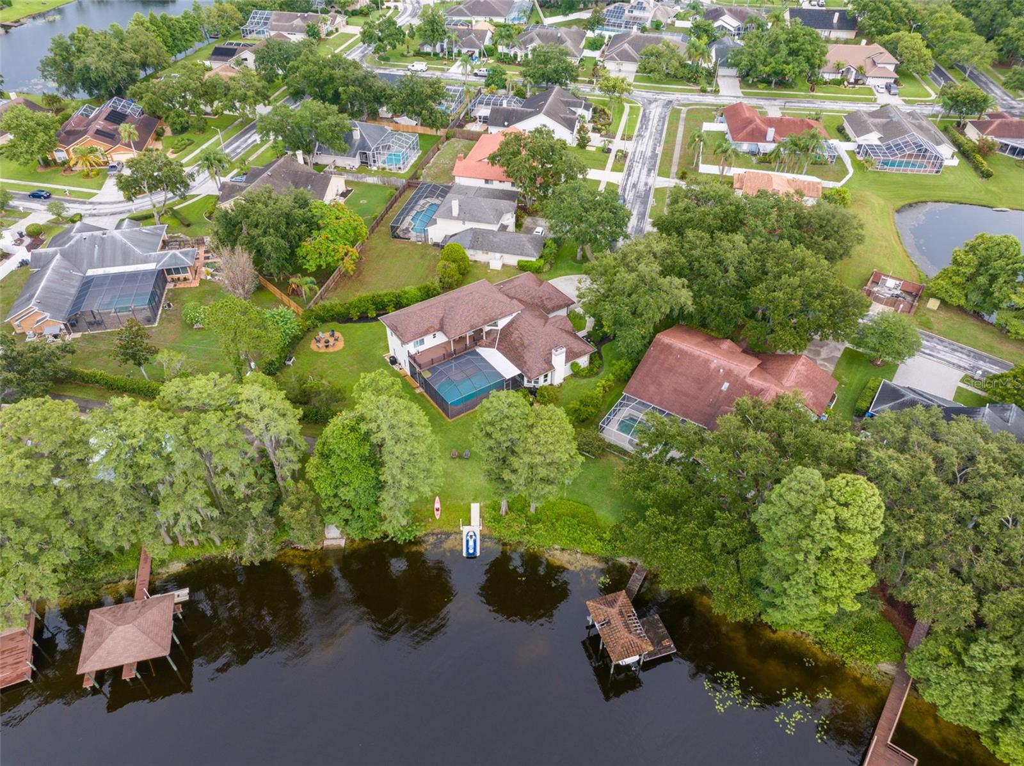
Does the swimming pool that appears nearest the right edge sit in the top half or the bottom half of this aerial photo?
top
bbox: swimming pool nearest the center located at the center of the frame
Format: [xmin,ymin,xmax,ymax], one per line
[409,355,507,420]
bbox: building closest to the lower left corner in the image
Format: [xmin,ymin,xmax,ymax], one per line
[75,543,190,717]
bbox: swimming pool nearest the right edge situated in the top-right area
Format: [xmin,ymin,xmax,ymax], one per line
[862,152,943,174]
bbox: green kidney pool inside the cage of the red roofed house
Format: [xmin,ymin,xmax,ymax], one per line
[600,407,693,461]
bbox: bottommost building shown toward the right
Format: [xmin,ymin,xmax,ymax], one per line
[583,562,681,693]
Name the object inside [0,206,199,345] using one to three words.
house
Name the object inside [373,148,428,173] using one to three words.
swimming pool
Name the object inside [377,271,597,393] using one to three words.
house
